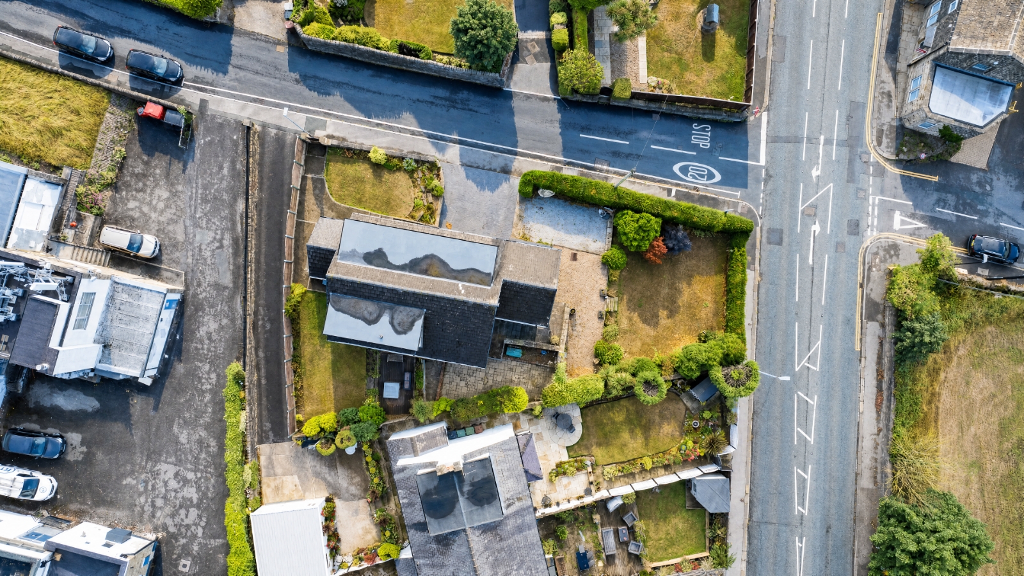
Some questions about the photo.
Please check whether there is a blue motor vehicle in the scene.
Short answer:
Yes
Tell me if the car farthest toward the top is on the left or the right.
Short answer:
left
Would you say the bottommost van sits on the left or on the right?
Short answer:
left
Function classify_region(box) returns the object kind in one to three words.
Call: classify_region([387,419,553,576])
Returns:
house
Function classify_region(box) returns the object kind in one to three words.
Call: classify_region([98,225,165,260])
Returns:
car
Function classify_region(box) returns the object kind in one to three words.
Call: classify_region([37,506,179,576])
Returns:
building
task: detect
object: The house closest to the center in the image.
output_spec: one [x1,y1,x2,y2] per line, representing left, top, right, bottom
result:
[307,212,561,368]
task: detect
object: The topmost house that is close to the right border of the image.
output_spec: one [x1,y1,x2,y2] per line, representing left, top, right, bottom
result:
[898,0,1024,137]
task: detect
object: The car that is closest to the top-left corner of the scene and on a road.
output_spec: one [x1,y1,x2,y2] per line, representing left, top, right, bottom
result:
[49,22,121,66]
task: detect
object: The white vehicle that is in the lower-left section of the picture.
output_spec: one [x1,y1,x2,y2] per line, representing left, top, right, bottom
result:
[0,461,64,501]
